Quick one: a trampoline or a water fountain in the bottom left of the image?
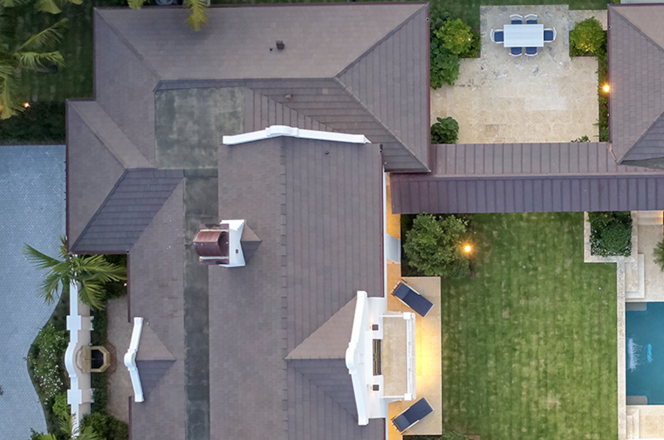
water fountain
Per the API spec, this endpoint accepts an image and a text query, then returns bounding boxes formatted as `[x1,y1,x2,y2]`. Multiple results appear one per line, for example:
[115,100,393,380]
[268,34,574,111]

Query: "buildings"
[63,0,436,440]
[605,0,664,173]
